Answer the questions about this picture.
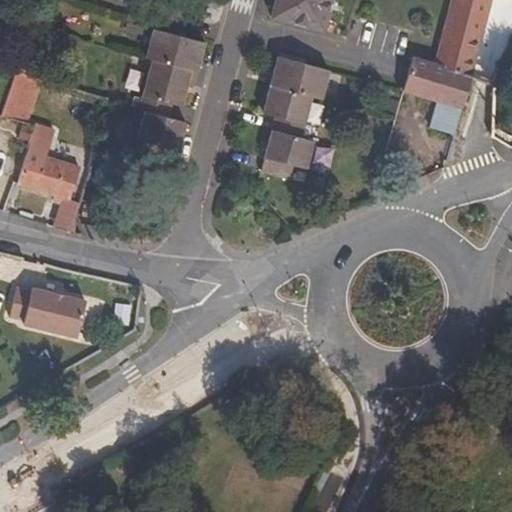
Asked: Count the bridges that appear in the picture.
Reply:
0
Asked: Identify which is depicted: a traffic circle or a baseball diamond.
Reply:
traffic circle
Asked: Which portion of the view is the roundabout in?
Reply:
right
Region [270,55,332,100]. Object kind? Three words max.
house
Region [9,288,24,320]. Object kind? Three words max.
building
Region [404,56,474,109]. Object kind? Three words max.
building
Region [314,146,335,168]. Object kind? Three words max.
tent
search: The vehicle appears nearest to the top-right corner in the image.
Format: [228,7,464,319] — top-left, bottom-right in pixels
[397,33,409,54]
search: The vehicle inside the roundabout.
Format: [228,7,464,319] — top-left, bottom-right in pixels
[338,245,354,268]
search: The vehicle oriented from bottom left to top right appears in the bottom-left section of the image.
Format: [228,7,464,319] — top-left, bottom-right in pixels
[8,468,34,488]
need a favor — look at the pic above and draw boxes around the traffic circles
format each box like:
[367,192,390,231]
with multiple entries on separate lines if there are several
[312,214,484,386]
